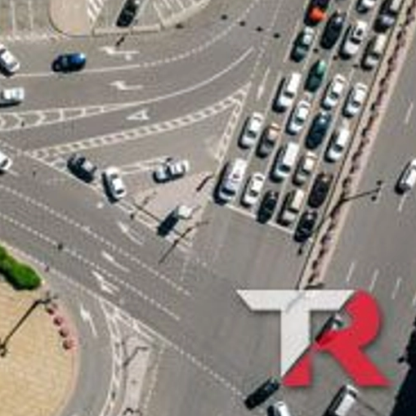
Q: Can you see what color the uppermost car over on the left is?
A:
black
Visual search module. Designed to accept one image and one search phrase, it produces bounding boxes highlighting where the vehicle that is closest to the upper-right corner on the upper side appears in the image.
[373,0,401,32]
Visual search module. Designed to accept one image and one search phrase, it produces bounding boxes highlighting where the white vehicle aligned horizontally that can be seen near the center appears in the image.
[151,160,188,181]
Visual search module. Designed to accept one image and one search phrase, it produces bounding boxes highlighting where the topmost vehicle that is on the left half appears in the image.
[117,0,141,29]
